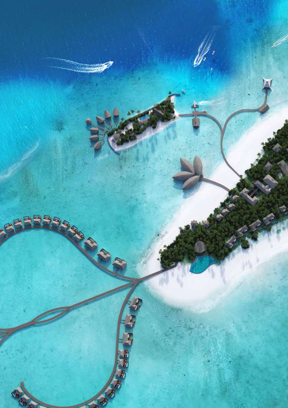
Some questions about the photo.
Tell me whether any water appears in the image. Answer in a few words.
Yes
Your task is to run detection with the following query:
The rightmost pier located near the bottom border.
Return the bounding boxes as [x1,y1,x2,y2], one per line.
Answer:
[20,280,139,408]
